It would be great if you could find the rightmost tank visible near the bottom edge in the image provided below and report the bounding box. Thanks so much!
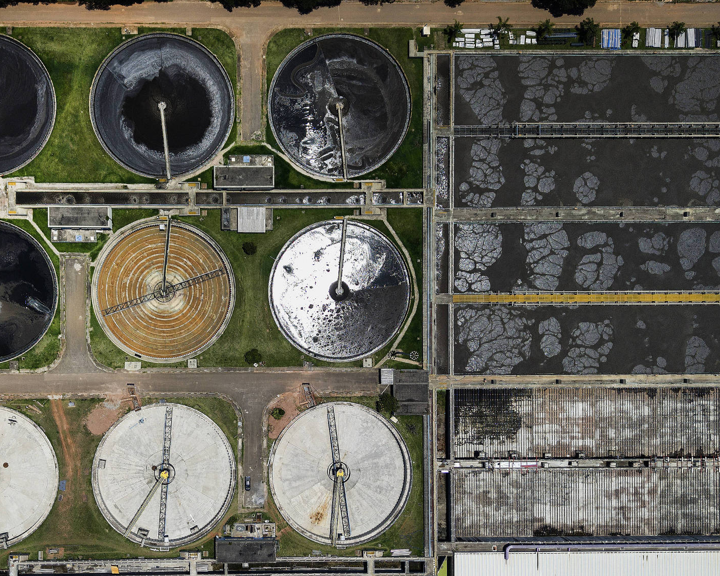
[268,402,412,550]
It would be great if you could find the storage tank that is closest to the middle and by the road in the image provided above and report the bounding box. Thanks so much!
[268,216,411,363]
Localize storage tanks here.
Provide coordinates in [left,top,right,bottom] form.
[268,32,412,181]
[92,403,236,555]
[91,216,236,364]
[0,405,58,553]
[89,32,235,181]
[0,221,58,363]
[268,216,411,363]
[268,402,412,550]
[0,33,56,176]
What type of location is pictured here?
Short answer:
industrial area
